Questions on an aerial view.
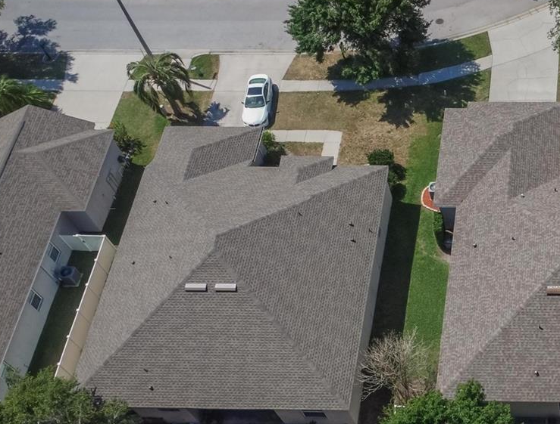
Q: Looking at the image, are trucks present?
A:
No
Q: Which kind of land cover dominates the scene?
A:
buildings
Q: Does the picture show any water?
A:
No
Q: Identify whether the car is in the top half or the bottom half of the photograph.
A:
top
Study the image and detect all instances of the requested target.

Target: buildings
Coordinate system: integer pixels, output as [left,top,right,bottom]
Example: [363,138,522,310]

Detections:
[433,102,560,416]
[0,106,127,416]
[66,125,391,423]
